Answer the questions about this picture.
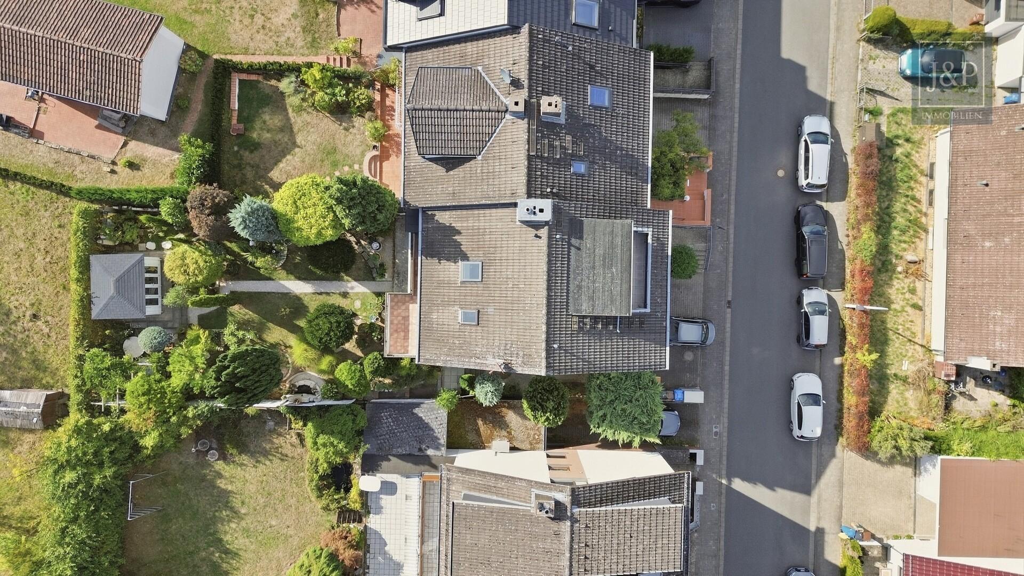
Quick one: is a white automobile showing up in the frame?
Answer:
Yes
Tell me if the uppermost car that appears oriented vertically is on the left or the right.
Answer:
right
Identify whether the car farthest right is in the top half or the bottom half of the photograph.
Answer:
top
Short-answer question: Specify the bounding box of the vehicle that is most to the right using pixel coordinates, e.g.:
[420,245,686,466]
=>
[897,47,964,82]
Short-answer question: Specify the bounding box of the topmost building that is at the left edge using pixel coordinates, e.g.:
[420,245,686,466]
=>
[0,0,185,122]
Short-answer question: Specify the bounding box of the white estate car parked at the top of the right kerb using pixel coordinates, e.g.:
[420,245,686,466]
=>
[796,116,834,192]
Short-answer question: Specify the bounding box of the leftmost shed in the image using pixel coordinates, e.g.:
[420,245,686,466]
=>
[0,390,71,430]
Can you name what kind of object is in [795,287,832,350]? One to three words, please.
car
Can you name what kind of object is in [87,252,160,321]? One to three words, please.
building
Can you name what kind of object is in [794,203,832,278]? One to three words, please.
car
